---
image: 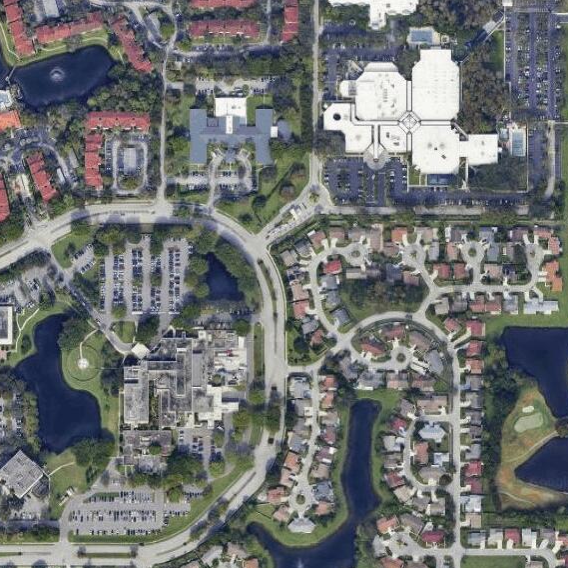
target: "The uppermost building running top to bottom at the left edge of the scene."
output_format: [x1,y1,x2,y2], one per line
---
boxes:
[3,0,32,56]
